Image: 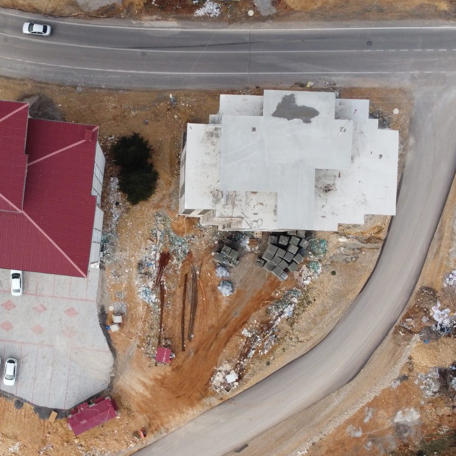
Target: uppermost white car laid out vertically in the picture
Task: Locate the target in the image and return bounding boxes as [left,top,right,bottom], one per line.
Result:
[11,268,24,295]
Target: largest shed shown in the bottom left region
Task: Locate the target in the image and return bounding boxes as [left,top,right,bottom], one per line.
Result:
[67,393,121,435]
